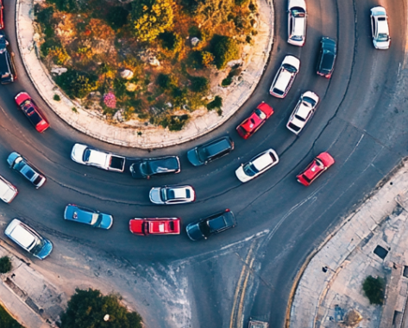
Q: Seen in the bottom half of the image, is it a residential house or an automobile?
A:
automobile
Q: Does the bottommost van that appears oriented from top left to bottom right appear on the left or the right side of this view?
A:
left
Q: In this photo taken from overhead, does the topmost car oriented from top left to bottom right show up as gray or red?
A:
red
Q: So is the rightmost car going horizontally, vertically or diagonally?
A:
vertically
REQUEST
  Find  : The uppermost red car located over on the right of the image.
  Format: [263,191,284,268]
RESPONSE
[232,101,276,139]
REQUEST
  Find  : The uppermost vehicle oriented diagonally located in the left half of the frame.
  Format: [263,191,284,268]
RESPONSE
[12,89,53,136]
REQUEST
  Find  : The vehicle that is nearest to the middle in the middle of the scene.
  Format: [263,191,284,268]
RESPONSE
[185,134,236,167]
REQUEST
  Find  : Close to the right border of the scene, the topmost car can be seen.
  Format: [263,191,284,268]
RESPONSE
[367,5,392,51]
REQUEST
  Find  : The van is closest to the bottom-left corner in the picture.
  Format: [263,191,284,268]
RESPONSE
[2,217,54,260]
